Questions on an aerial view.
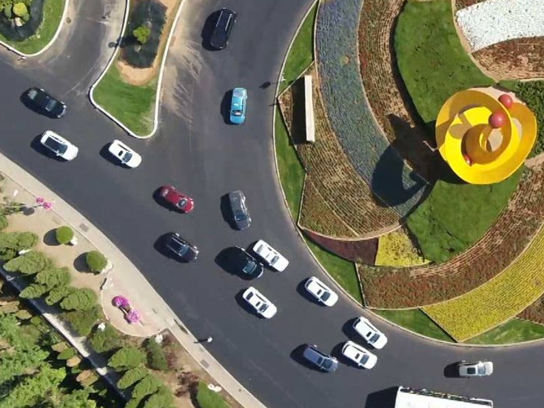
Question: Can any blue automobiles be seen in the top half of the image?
Yes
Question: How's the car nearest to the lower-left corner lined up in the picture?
on a diagonal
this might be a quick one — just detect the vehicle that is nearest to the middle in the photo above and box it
[229,191,251,228]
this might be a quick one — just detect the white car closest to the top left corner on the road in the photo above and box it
[40,131,77,160]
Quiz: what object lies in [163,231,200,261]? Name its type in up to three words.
car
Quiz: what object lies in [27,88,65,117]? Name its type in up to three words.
car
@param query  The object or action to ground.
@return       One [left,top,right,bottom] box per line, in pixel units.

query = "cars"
[225,248,262,277]
[163,231,200,261]
[241,287,277,318]
[157,185,194,213]
[456,359,493,378]
[27,88,65,117]
[352,317,387,349]
[341,340,377,370]
[229,191,251,228]
[301,343,340,373]
[229,88,248,125]
[109,140,142,166]
[303,276,338,307]
[40,131,77,160]
[254,242,285,269]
